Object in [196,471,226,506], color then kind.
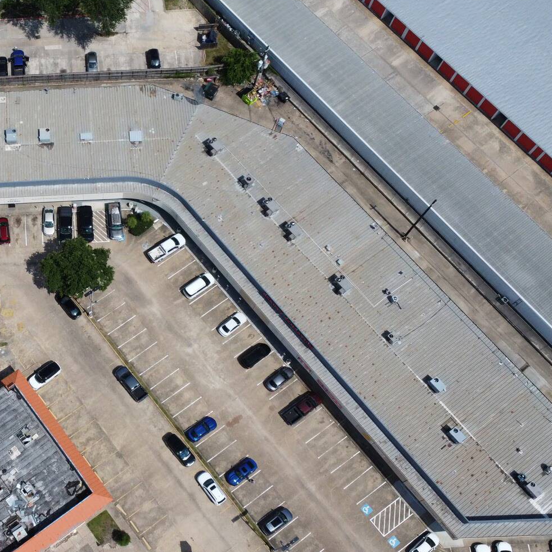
white car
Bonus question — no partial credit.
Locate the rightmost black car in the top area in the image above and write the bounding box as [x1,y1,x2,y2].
[146,48,160,69]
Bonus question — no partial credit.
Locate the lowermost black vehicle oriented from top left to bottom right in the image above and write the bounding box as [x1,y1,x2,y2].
[164,433,194,465]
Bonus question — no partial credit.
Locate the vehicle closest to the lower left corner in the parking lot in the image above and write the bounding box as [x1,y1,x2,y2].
[29,362,62,389]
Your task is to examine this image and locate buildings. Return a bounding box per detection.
[0,84,552,541]
[353,0,552,182]
[206,0,552,346]
[0,371,112,552]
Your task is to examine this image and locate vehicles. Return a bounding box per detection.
[237,344,270,368]
[57,293,81,319]
[263,367,295,391]
[406,532,440,552]
[0,218,10,245]
[473,545,489,552]
[181,273,214,298]
[257,507,292,535]
[196,471,226,506]
[494,543,512,552]
[112,365,150,404]
[79,208,93,239]
[147,234,185,262]
[8,49,28,79]
[29,362,62,389]
[107,203,123,238]
[164,433,194,465]
[281,393,322,424]
[216,313,246,336]
[146,48,160,69]
[85,52,97,72]
[185,417,216,442]
[226,458,257,486]
[57,207,72,242]
[42,208,54,236]
[0,57,7,76]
